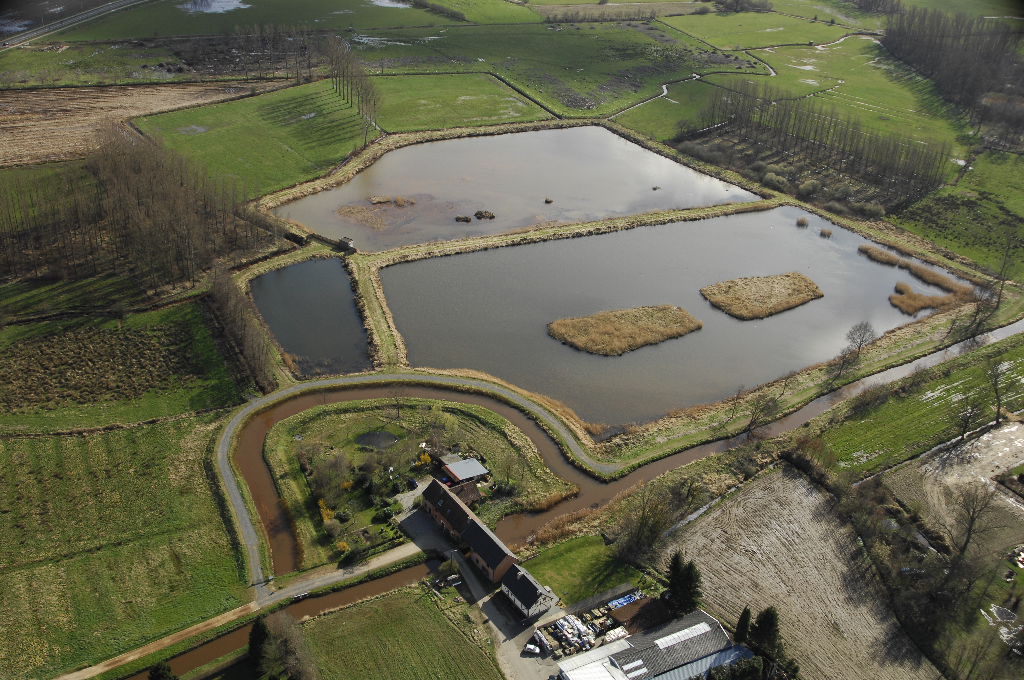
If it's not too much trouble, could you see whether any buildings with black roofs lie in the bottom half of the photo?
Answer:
Yes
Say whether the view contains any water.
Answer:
Yes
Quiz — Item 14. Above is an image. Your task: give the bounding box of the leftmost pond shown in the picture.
[250,258,375,376]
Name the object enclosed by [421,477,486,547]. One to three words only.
house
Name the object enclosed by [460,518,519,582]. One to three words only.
building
